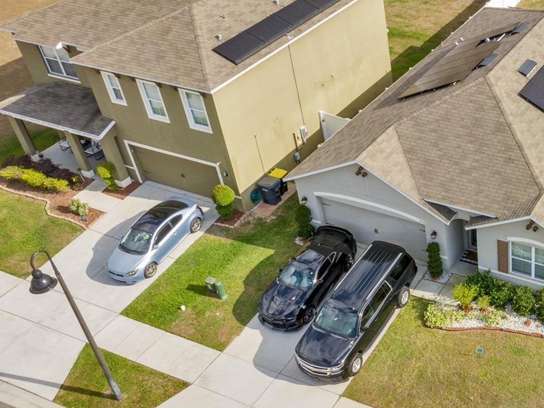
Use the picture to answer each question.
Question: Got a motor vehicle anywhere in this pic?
Yes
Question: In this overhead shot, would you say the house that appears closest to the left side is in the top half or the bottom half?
top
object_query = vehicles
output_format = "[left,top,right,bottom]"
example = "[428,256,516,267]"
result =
[290,243,418,387]
[101,193,203,280]
[254,221,358,329]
